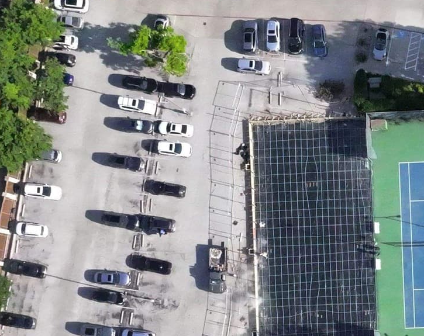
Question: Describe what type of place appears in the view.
parking lot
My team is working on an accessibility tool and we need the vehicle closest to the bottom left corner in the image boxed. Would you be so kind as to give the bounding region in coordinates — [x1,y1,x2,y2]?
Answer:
[0,311,37,329]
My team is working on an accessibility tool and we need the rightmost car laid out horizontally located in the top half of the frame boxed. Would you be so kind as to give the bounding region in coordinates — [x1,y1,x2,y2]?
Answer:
[237,57,272,75]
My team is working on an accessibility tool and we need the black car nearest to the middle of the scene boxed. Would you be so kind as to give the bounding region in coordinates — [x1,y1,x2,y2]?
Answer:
[149,179,186,199]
